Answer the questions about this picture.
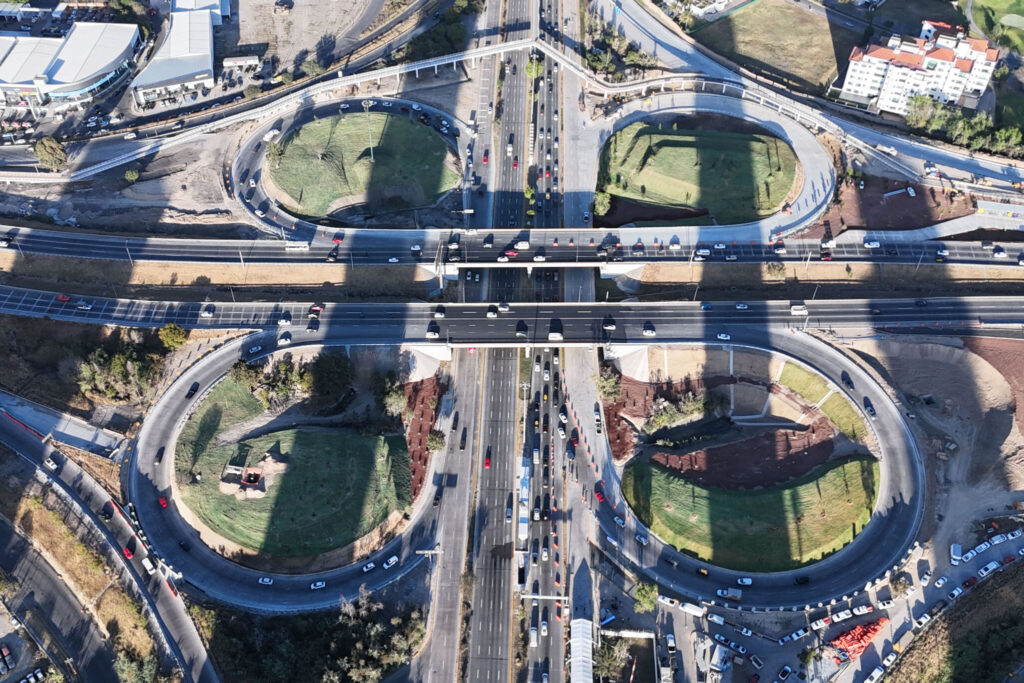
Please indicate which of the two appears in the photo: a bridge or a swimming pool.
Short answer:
bridge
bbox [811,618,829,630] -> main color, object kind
white vehicle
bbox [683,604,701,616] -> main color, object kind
white vehicle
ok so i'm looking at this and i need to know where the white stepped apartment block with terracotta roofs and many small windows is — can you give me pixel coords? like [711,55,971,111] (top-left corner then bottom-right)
[835,17,1007,116]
